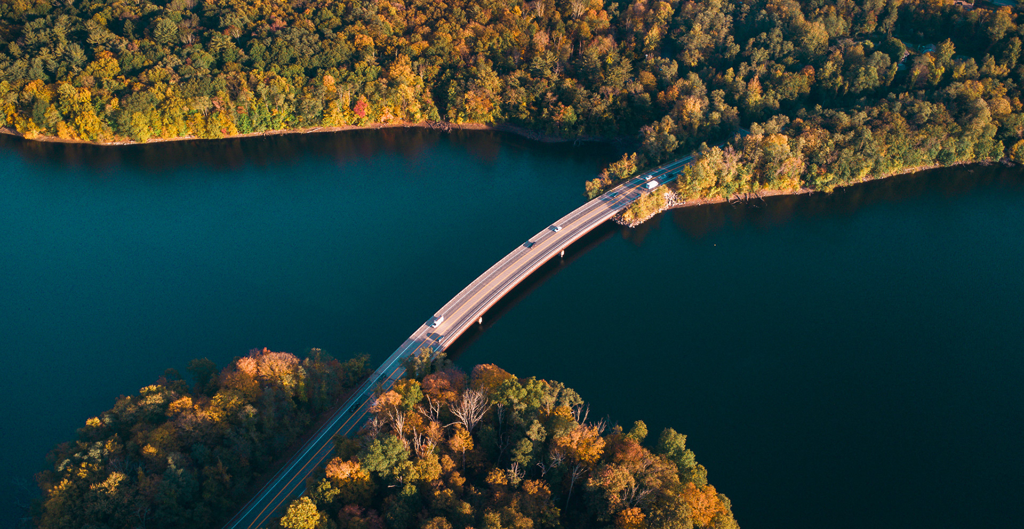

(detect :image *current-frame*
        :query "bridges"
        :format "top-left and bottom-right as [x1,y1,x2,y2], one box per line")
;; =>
[378,197,625,381]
